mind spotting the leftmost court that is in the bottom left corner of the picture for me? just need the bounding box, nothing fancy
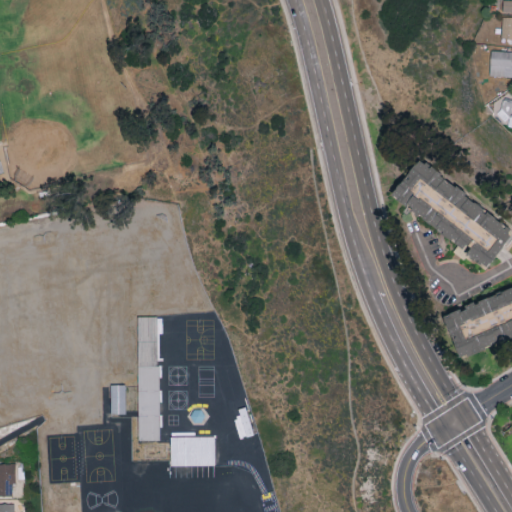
[48,434,80,484]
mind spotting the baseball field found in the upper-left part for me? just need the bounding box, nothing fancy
[0,0,152,193]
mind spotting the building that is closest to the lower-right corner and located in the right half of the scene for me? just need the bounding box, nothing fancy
[443,284,512,359]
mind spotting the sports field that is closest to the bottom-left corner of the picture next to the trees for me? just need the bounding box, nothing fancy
[0,201,214,512]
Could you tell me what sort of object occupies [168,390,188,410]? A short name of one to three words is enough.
sports court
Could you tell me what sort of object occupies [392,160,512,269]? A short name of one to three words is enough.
building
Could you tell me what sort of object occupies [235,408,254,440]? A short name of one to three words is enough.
building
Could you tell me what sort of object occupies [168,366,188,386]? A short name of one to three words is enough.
sports court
